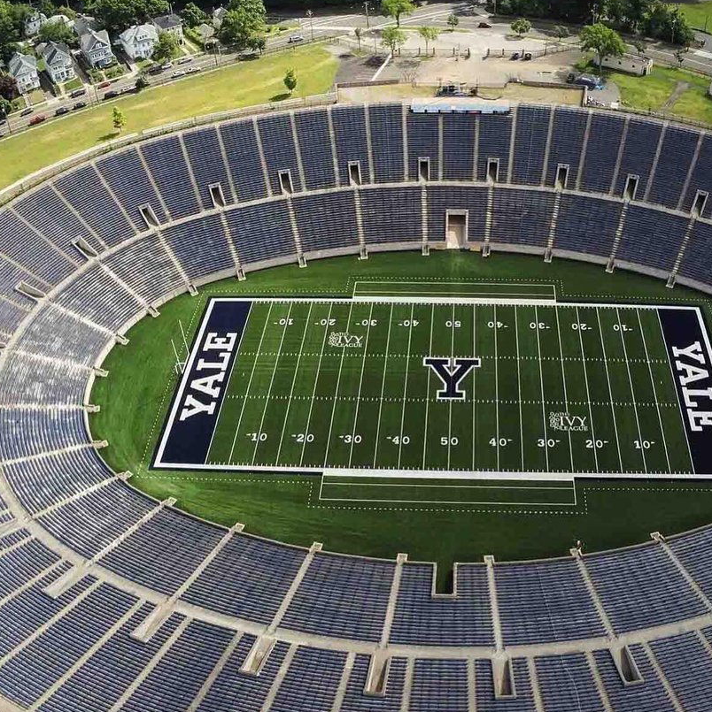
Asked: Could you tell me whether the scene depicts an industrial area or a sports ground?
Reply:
sports ground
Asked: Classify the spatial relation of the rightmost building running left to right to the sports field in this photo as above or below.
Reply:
above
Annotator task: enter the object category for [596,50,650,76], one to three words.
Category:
building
